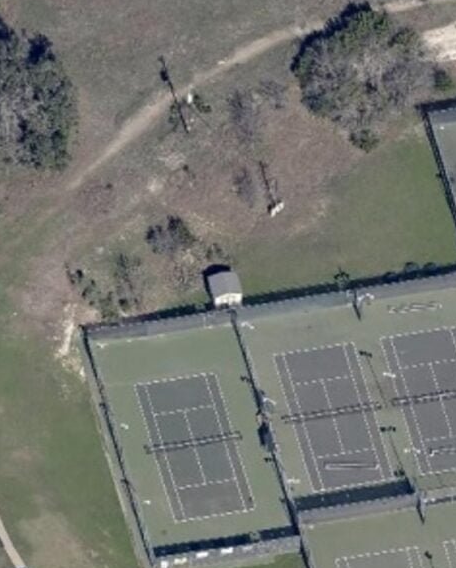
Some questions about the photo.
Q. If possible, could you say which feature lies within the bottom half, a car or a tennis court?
tennis court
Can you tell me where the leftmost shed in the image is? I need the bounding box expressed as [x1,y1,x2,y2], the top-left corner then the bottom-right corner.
[209,270,243,310]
